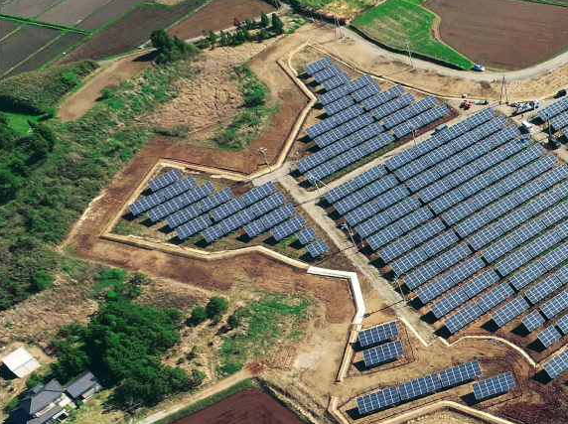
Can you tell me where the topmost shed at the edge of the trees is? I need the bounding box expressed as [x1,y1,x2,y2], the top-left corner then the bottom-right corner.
[1,346,42,383]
